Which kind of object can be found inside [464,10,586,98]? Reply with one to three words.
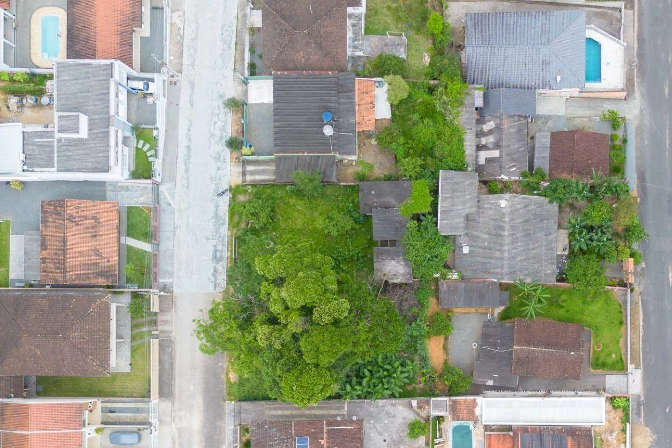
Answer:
house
